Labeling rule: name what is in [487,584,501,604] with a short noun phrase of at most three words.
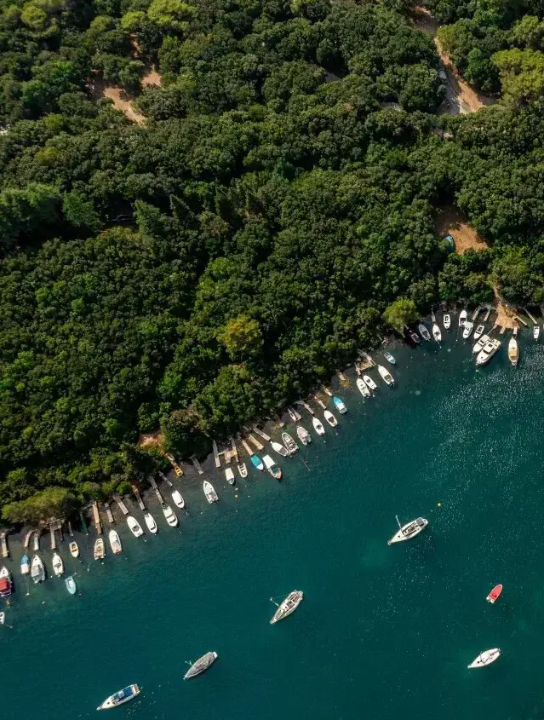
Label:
boat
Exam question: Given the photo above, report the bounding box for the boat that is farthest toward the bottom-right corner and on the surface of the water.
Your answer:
[467,645,500,667]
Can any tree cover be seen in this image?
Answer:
Yes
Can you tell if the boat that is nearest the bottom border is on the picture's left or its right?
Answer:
left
